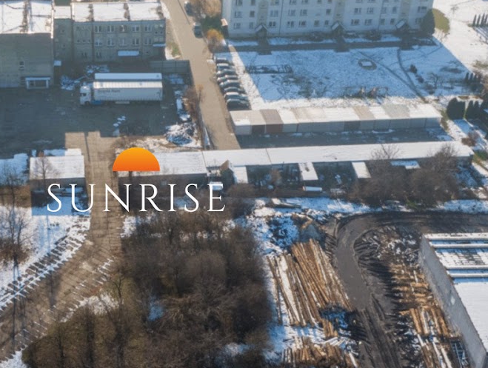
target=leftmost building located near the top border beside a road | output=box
[0,0,165,90]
